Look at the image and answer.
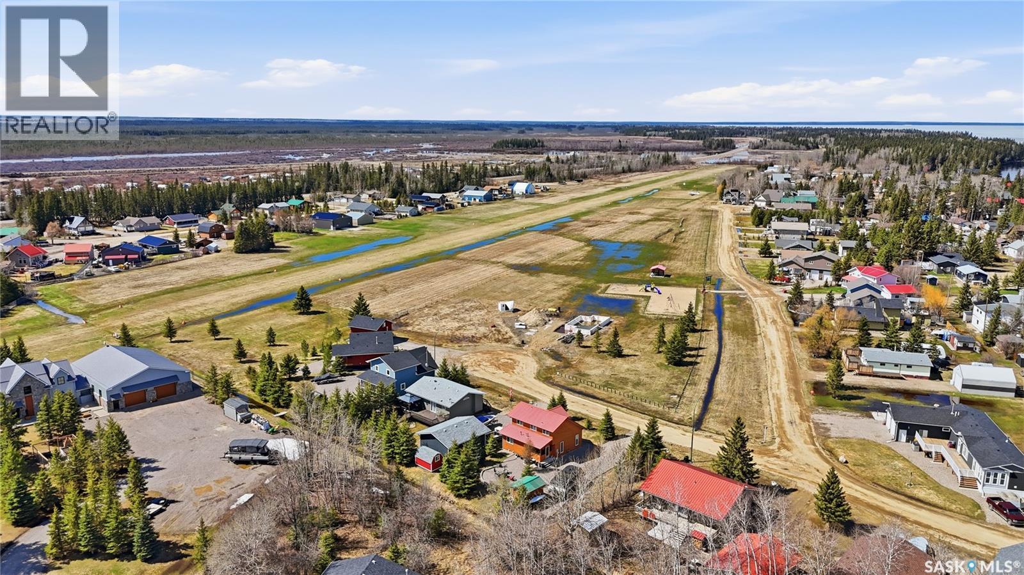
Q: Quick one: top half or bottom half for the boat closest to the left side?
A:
bottom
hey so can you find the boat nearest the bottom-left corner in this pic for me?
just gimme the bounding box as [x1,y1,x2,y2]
[213,442,273,465]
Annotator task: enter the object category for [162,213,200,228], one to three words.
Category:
house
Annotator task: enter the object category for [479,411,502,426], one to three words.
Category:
boat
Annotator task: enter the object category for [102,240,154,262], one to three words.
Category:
building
